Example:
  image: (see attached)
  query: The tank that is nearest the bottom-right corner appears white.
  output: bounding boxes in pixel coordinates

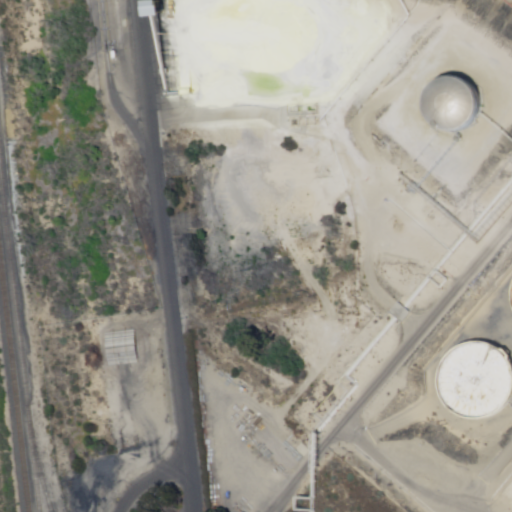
[438,340,512,420]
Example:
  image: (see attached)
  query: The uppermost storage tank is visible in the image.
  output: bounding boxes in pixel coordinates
[420,76,479,133]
